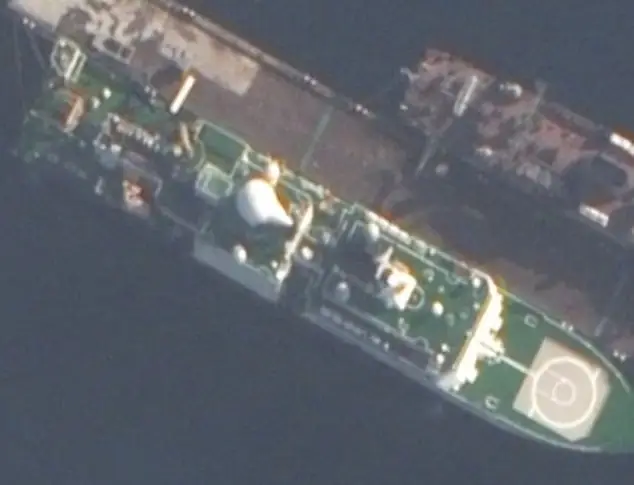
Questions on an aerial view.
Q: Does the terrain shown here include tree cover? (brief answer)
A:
No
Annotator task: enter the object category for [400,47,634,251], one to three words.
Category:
ship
